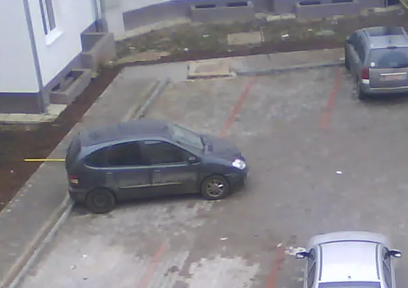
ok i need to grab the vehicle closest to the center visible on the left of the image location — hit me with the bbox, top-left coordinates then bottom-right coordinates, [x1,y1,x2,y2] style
[70,125,240,213]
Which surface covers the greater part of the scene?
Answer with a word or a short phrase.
paved ground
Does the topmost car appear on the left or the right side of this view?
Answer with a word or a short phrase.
right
